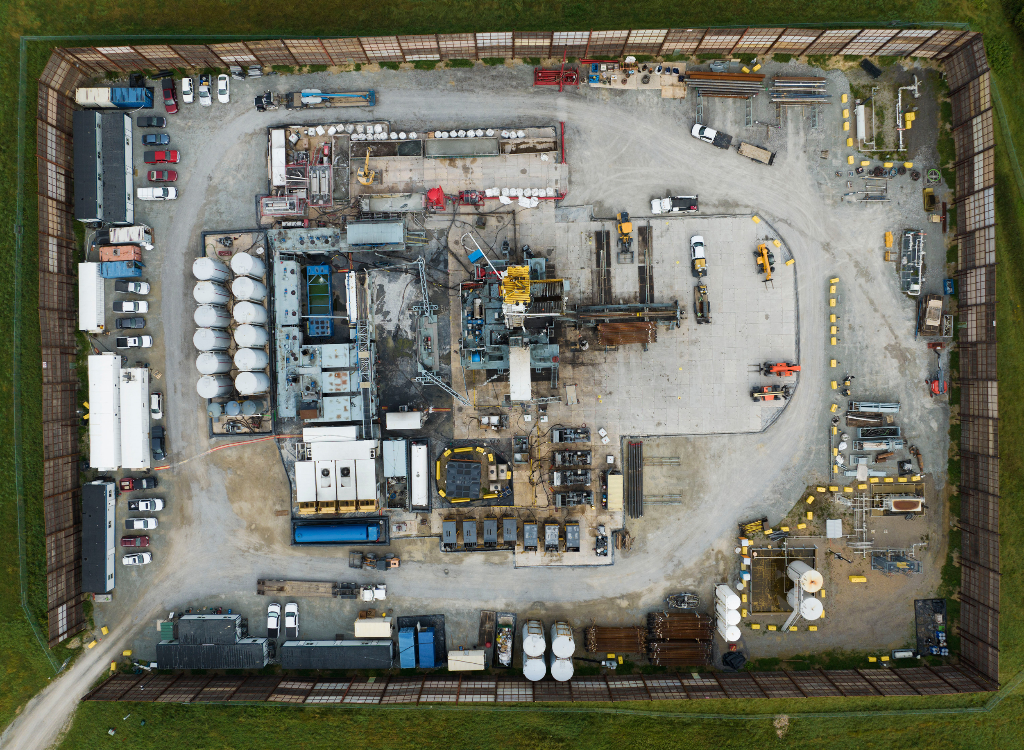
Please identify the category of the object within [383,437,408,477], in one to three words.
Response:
house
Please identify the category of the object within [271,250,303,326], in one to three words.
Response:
storage tank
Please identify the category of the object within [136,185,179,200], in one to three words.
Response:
vehicle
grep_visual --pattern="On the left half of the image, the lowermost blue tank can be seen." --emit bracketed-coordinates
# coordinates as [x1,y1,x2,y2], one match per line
[295,522,381,542]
